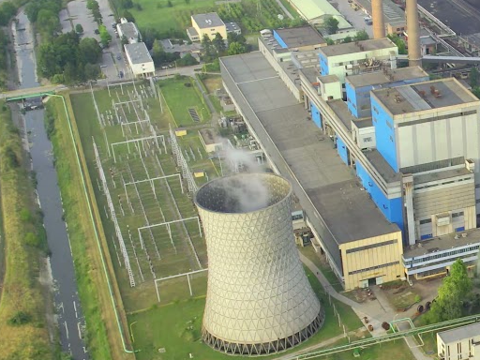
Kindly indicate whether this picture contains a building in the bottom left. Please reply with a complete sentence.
No, I can find no building in the bottom left.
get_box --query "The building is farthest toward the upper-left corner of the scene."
[101,18,138,42]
